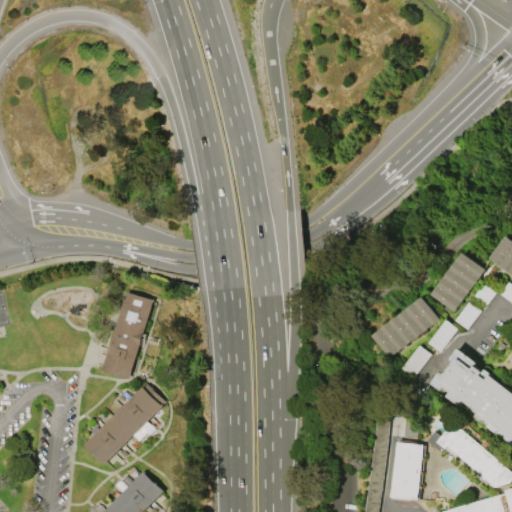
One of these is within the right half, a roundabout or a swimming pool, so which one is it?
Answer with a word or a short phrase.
swimming pool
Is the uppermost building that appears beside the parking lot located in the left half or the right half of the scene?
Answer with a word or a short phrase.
left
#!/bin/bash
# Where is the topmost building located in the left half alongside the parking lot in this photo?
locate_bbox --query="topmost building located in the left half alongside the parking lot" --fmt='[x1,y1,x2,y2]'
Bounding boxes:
[103,292,156,377]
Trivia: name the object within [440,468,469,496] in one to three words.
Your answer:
swimming pool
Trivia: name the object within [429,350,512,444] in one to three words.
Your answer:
building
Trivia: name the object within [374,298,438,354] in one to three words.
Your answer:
building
